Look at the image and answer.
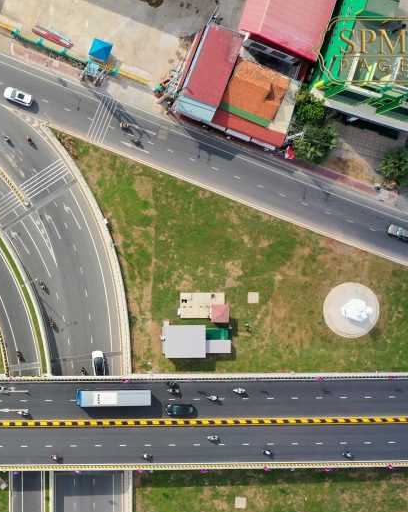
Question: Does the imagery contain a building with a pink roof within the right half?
Yes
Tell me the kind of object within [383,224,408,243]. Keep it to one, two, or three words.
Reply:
vehicle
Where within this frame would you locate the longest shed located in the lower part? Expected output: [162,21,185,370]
[160,321,231,358]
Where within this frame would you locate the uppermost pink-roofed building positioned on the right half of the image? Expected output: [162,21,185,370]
[238,0,339,65]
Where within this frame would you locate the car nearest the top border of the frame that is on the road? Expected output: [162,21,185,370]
[4,88,34,107]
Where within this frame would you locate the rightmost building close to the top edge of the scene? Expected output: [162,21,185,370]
[306,0,408,141]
